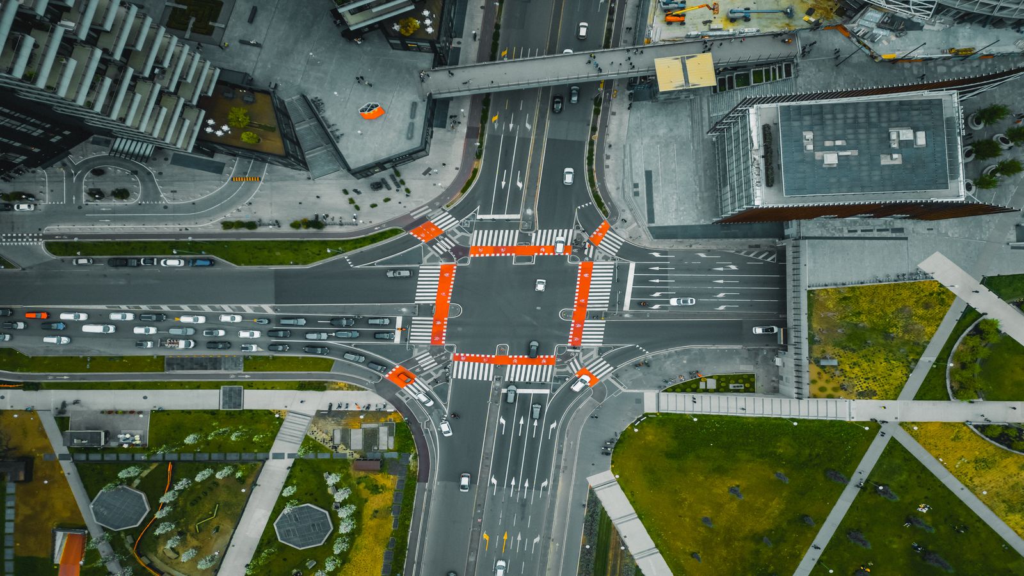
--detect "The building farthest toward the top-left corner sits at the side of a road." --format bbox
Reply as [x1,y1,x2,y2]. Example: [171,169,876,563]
[0,0,221,160]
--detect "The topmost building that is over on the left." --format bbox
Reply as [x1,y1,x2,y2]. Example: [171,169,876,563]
[333,0,449,63]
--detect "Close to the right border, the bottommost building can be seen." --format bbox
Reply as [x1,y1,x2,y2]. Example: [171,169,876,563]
[698,63,1024,225]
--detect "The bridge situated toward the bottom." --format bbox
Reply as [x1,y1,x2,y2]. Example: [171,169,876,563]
[644,392,849,421]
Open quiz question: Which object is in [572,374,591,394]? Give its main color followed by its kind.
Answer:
white car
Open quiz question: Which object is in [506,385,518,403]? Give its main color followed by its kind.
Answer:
gray vehicle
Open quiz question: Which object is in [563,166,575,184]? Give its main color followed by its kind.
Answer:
white vehicle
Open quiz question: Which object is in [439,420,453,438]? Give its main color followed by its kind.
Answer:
white car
